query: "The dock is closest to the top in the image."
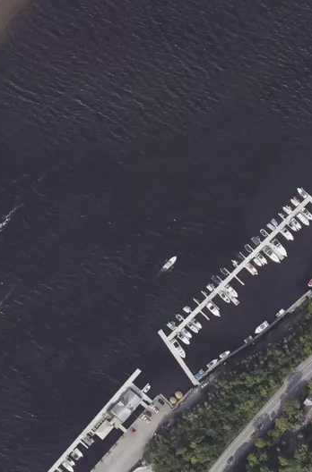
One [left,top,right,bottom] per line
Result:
[158,193,312,385]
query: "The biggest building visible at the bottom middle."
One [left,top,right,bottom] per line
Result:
[108,387,144,424]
